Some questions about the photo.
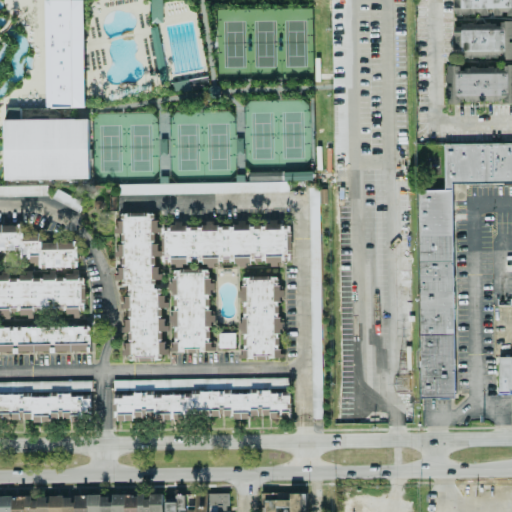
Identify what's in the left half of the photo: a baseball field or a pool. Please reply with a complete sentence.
What appears in the left half of the photo is a pool.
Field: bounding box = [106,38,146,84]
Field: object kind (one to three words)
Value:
swimming pool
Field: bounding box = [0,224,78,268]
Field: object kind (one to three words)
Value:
building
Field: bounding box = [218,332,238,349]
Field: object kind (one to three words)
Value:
building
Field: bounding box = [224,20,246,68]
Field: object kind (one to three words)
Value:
tennis court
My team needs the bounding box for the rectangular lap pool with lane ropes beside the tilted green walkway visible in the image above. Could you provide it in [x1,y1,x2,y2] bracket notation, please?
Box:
[167,22,204,74]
